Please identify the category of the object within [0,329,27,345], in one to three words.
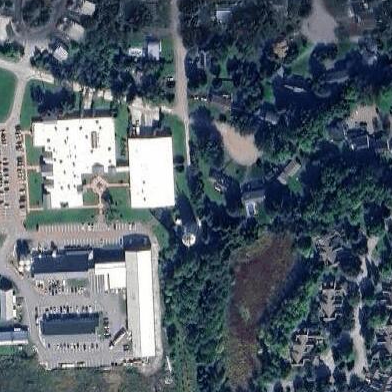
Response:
building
